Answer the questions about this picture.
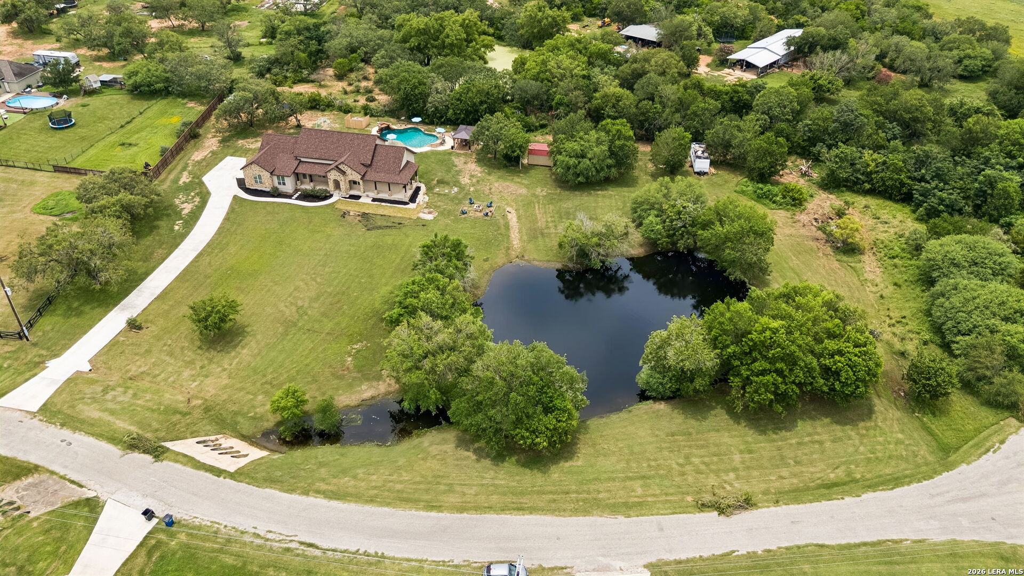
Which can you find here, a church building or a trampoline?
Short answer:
trampoline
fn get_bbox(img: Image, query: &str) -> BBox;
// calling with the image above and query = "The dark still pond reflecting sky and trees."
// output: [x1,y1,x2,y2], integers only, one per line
[480,251,746,419]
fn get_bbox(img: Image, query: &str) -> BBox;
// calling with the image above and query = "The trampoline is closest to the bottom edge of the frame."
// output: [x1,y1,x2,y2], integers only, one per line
[45,105,76,129]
